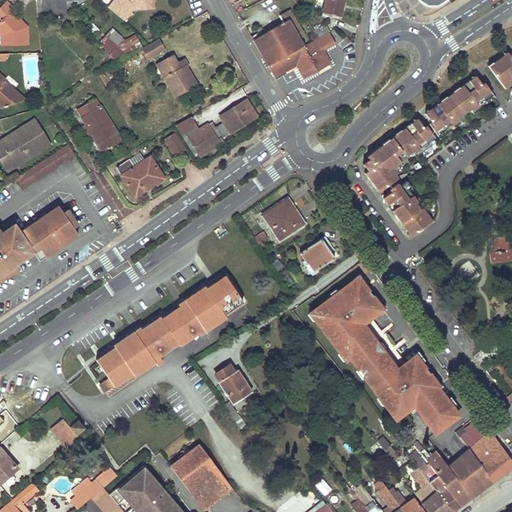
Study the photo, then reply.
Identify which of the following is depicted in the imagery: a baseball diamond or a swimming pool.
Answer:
swimming pool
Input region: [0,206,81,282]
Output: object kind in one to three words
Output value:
building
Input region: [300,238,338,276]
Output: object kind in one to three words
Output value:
house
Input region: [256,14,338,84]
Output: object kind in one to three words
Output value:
building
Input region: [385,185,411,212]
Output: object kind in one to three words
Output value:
house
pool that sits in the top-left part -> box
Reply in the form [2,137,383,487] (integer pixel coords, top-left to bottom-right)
[22,52,40,90]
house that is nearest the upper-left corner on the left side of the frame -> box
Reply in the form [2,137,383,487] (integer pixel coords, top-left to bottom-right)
[0,1,30,46]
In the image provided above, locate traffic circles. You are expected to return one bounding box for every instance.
[263,12,452,180]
